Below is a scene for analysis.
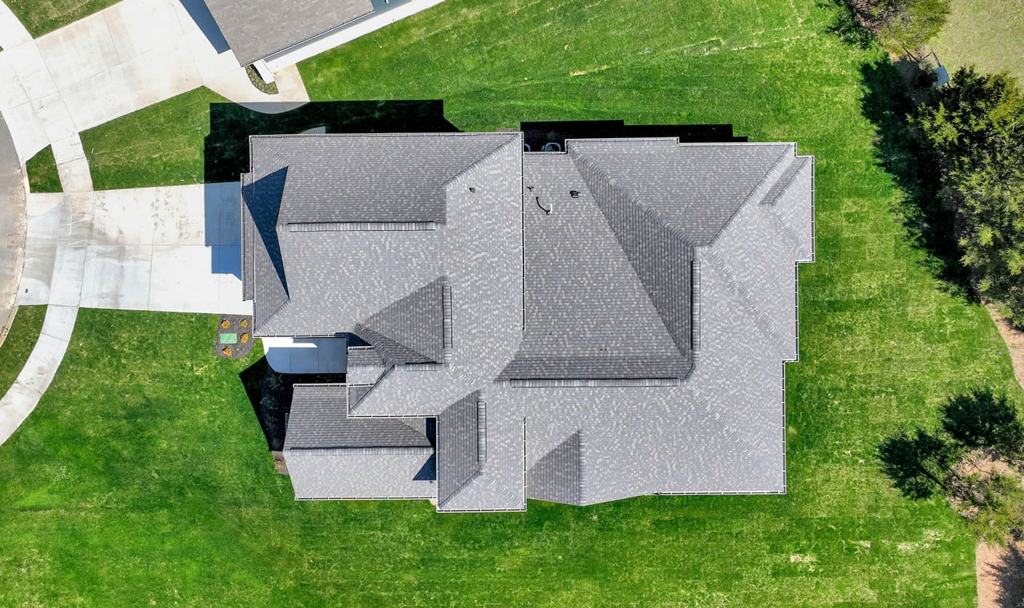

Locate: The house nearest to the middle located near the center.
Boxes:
[241,132,815,511]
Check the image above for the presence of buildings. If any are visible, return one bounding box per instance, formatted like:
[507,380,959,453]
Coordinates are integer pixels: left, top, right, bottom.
[241,132,815,511]
[207,0,420,66]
